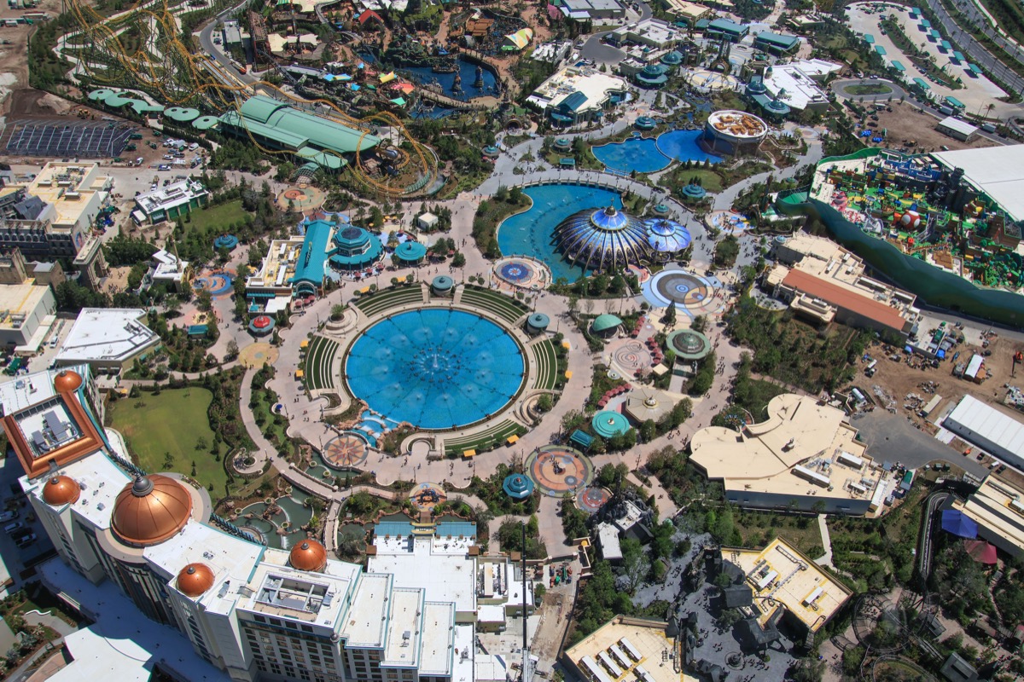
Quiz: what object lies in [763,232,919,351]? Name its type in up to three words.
building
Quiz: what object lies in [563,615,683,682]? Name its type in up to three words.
building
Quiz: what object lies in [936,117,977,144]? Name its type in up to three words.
shed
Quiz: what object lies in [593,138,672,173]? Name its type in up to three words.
swimming pool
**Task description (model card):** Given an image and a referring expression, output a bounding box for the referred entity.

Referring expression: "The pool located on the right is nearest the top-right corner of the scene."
[657,128,725,162]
